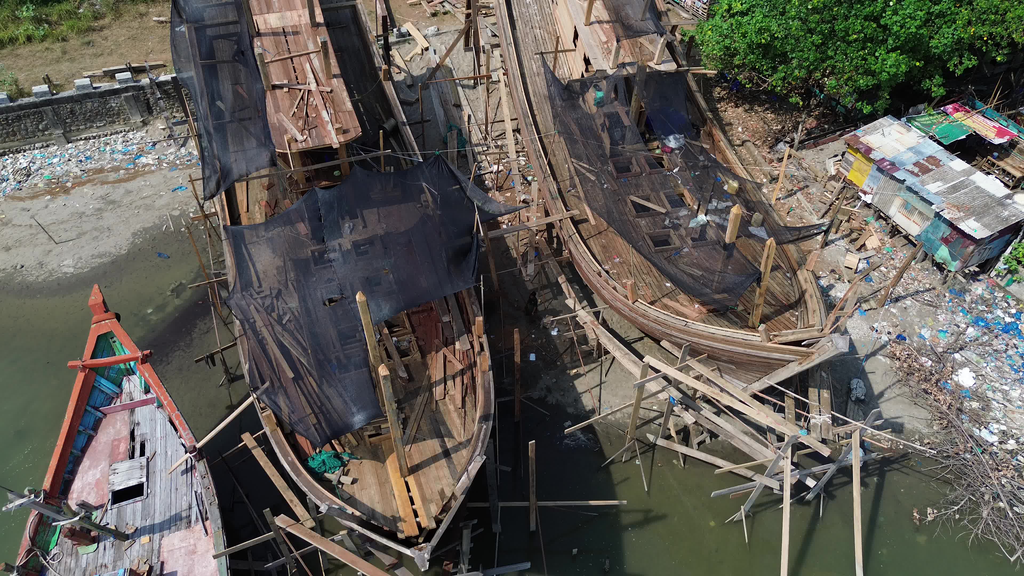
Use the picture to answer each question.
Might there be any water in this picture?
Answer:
Yes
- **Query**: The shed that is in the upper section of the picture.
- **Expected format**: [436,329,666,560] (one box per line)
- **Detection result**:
[835,111,1024,274]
